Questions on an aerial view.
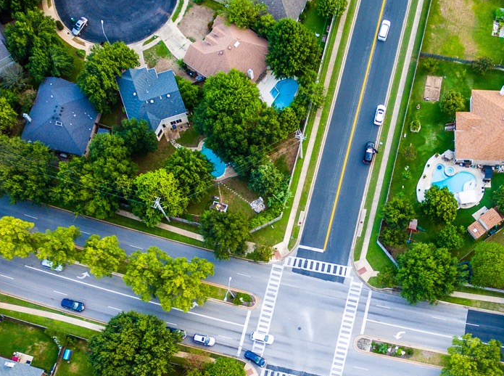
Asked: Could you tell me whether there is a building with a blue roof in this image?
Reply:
Yes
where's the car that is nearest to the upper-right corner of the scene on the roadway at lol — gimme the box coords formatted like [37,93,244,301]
[377,20,390,41]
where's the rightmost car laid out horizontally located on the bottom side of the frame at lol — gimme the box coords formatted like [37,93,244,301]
[250,331,275,344]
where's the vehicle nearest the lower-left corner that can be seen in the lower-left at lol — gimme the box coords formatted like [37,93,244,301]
[60,298,86,311]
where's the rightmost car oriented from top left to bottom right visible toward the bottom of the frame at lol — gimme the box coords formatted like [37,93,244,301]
[244,348,267,367]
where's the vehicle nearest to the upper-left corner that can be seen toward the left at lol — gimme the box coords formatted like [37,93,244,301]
[71,16,88,36]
